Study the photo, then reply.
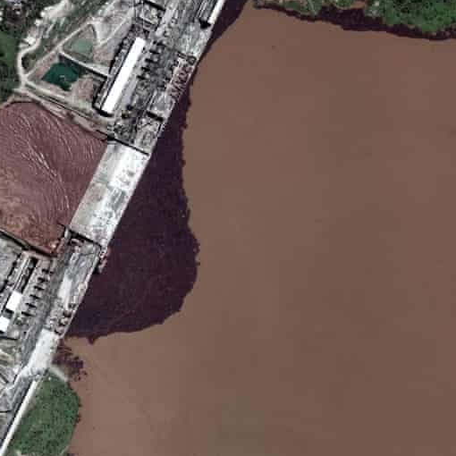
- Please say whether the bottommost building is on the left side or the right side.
left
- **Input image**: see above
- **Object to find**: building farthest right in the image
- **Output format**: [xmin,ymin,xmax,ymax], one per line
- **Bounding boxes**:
[93,30,150,118]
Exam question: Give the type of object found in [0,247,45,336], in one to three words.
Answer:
building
